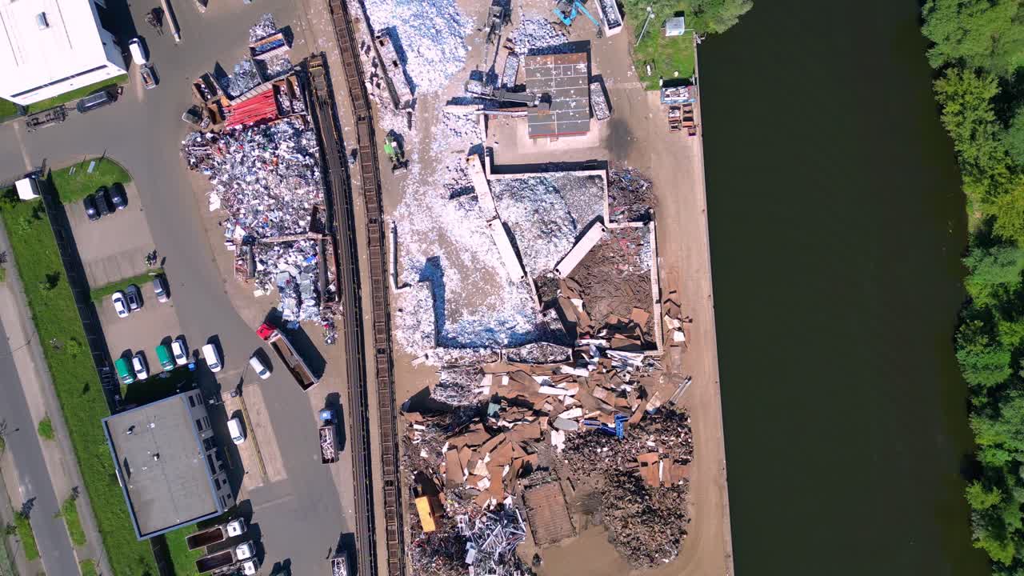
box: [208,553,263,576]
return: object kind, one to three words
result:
truck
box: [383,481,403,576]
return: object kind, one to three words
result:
rail car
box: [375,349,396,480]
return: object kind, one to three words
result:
rail car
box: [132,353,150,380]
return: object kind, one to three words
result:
car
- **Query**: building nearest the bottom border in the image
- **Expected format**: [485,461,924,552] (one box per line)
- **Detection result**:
[102,386,238,540]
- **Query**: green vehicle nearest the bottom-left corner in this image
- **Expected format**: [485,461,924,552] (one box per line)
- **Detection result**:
[113,355,134,383]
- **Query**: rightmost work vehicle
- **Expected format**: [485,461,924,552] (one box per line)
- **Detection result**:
[553,0,605,39]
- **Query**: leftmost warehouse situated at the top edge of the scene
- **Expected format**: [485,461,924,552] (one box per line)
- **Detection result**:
[0,0,129,113]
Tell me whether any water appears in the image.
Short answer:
Yes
